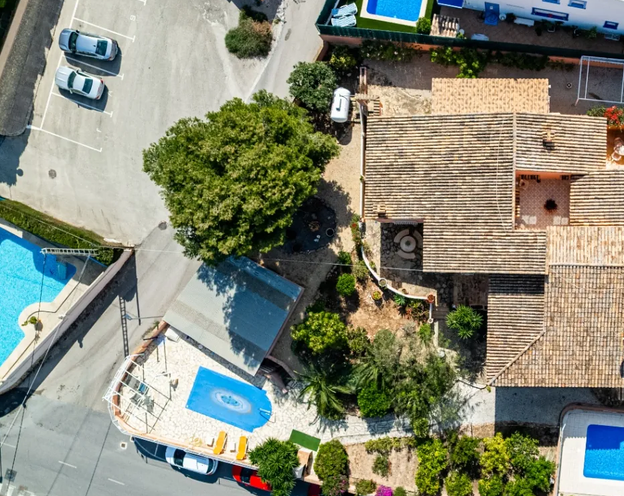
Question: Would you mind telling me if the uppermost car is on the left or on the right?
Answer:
left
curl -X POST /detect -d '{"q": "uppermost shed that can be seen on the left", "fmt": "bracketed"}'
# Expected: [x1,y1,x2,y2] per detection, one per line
[163,259,315,376]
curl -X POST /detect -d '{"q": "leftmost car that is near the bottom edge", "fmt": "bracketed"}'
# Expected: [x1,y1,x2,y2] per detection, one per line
[164,447,221,478]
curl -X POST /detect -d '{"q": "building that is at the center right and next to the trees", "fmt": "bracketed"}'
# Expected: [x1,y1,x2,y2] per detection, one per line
[353,78,624,403]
